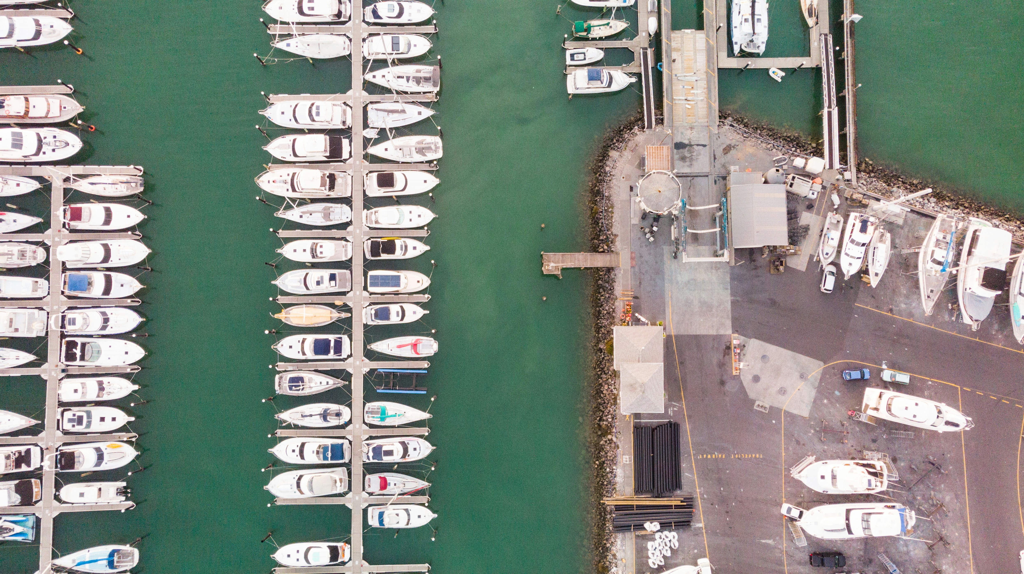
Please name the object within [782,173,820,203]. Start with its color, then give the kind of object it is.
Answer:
white truck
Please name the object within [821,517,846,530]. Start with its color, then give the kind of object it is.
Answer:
white boat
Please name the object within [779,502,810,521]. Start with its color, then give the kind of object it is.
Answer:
white car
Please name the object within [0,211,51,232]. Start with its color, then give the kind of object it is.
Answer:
white boat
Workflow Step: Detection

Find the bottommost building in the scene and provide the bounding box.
[619,362,665,414]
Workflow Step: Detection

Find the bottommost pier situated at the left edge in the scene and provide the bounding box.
[0,165,144,574]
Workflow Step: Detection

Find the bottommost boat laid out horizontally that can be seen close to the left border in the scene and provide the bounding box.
[47,546,143,574]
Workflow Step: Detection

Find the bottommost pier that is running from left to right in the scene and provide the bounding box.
[541,251,613,279]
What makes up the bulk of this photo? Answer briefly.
water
